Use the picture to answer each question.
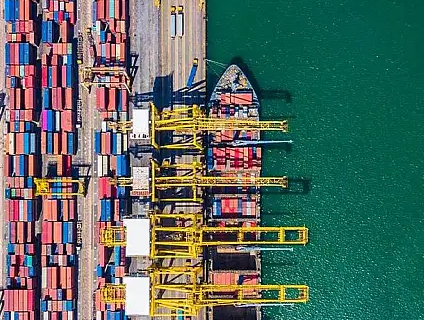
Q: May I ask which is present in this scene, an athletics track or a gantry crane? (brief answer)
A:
gantry crane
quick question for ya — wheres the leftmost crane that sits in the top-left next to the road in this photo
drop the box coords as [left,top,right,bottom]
[84,68,131,95]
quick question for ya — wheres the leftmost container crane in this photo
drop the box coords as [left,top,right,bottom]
[33,178,86,199]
